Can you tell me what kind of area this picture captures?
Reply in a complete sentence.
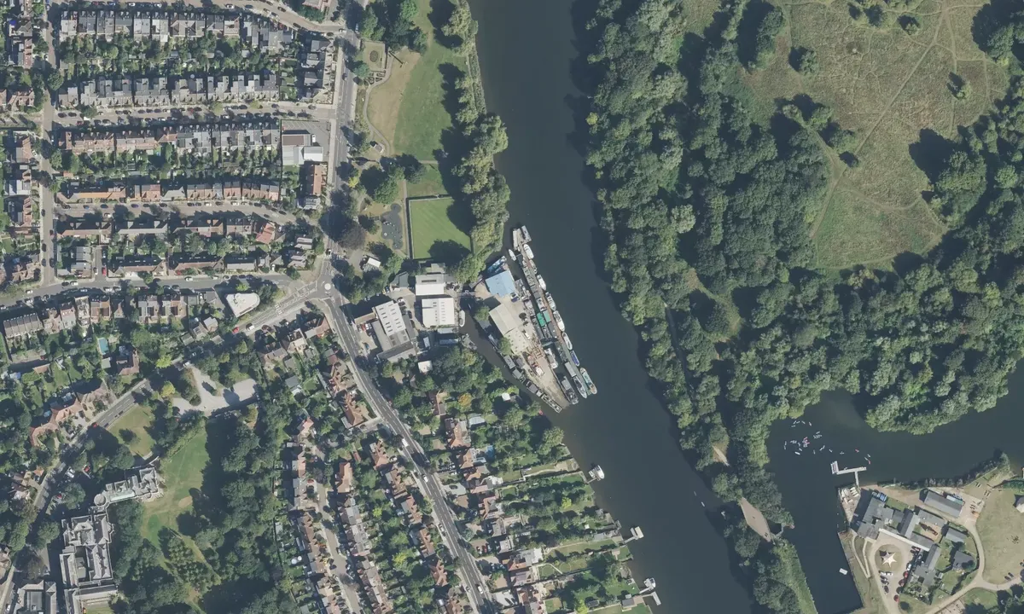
The picture captures a residential area.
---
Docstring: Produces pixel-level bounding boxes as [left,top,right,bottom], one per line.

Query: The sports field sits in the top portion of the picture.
[410,194,472,259]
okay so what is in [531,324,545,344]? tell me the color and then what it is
gray boat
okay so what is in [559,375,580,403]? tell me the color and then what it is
gray boat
